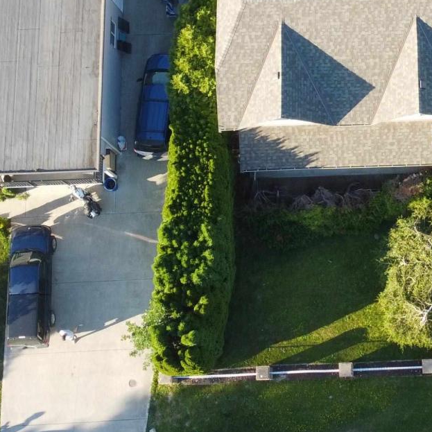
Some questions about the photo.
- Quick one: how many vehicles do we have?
three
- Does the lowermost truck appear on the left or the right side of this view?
left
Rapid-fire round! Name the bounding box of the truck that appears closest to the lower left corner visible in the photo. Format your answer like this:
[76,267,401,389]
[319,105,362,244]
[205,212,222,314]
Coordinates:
[2,223,60,354]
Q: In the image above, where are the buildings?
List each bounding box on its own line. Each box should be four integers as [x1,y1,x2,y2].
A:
[213,0,432,178]
[0,0,127,192]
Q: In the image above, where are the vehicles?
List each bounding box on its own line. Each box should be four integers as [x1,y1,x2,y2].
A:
[135,54,183,166]
[2,223,60,354]
[73,187,106,224]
